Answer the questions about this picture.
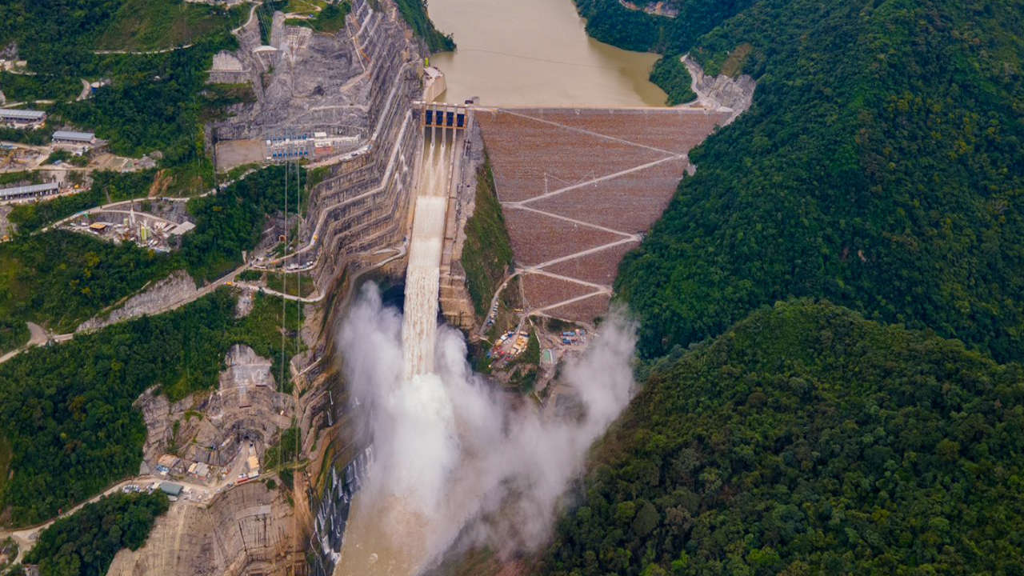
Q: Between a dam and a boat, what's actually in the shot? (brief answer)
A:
dam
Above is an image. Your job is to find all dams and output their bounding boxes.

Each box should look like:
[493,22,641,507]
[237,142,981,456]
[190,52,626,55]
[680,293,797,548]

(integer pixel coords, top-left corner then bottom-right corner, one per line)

[471,104,737,322]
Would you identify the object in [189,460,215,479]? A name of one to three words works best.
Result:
building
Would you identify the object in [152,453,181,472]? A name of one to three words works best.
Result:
building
